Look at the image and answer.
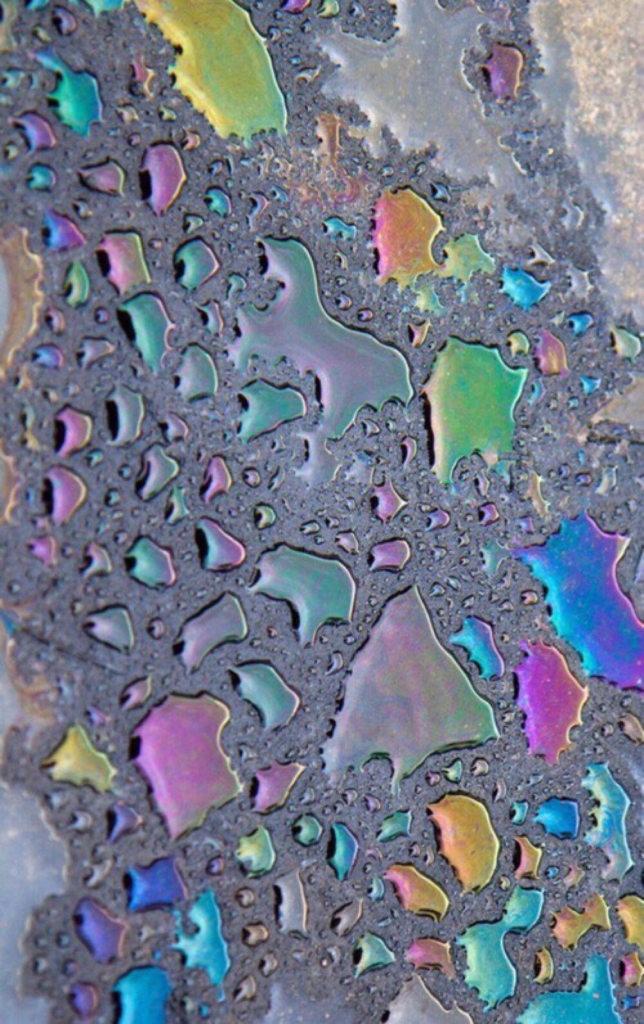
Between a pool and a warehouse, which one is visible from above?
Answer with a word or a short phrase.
pool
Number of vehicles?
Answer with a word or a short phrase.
0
